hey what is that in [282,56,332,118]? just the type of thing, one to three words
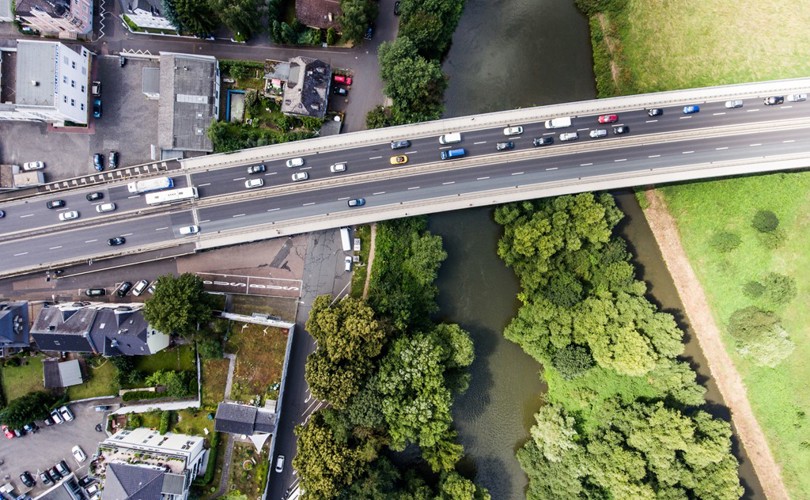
house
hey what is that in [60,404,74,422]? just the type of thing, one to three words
car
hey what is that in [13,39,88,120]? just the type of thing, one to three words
building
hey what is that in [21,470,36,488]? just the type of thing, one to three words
car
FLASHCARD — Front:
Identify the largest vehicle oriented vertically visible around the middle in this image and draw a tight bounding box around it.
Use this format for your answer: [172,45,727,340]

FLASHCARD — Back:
[339,226,352,252]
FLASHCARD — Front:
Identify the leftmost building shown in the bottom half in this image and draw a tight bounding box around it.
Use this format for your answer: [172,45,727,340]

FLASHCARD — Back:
[0,301,39,347]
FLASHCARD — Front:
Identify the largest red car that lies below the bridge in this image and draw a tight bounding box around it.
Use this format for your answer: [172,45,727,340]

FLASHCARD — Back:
[2,423,16,440]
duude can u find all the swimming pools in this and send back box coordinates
[225,89,246,122]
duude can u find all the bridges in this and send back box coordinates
[0,76,810,279]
